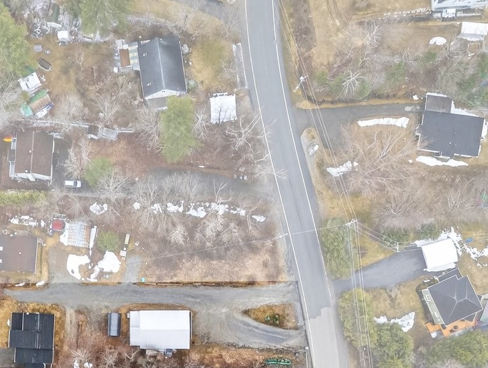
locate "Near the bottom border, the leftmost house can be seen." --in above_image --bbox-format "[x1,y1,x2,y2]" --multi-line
[8,312,54,368]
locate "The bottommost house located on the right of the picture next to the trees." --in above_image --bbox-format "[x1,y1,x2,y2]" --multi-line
[421,268,482,327]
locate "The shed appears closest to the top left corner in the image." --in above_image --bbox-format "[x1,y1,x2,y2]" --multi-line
[18,72,41,95]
